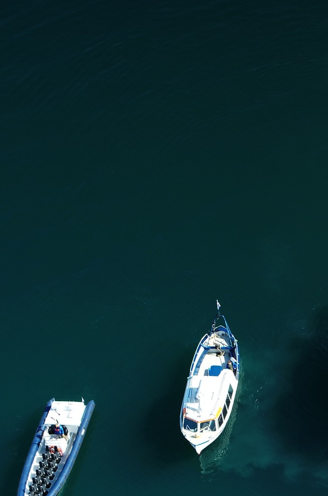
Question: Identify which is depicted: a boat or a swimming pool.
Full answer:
Looking from above, you can make out a boat.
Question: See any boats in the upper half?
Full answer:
No, there is no boat in the upper half.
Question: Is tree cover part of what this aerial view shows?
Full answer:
No, the scene doesn't show any tree cover.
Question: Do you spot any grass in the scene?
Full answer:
No, the picture contains no grass.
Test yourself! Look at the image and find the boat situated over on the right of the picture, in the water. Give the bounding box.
[180,300,240,458]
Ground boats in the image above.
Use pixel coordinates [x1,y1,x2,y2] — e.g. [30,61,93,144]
[180,300,240,458]
[18,397,98,496]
